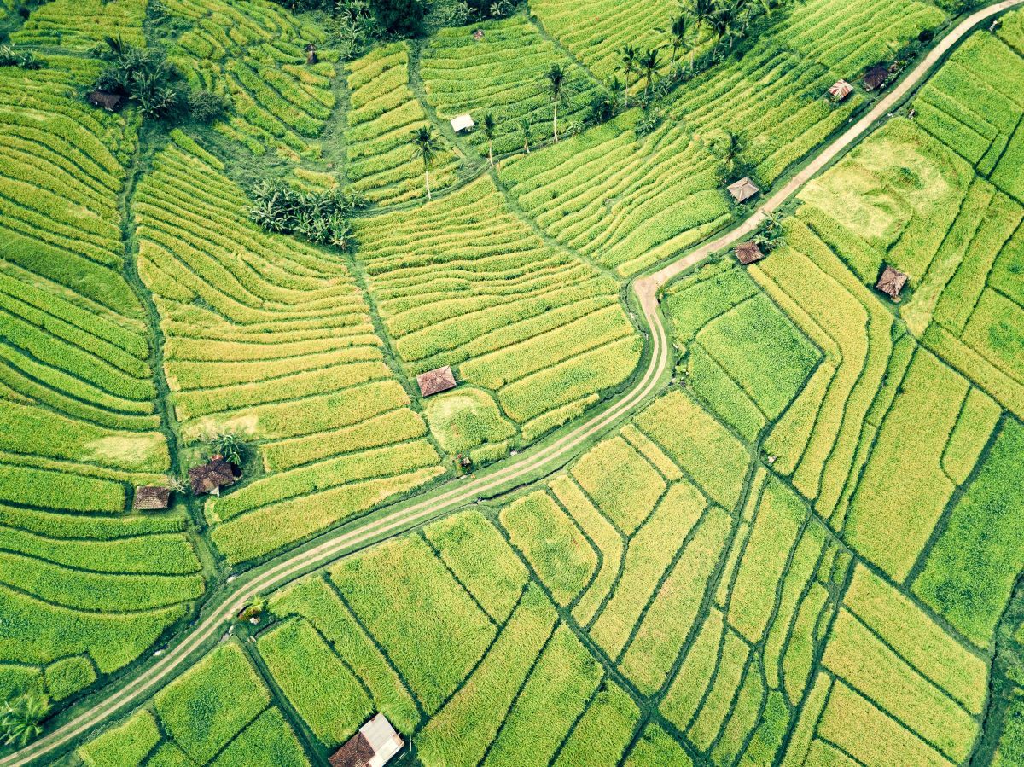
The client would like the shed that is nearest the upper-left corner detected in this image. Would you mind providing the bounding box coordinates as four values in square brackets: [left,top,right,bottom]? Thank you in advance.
[89,88,123,115]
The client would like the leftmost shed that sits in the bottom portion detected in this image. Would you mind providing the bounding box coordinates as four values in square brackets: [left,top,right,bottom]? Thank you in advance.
[133,487,170,512]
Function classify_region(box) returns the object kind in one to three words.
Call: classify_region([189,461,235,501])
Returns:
shed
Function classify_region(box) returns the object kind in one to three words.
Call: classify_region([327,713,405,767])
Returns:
house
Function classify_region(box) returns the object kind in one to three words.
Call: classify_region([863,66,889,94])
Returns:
shed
